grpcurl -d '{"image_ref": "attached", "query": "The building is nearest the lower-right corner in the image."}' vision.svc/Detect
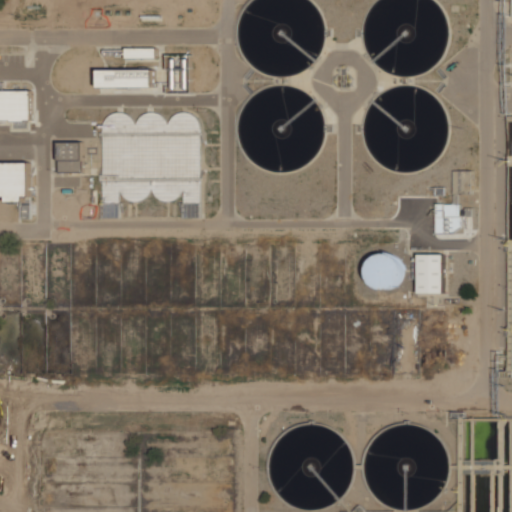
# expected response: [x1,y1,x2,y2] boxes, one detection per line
[415,254,444,294]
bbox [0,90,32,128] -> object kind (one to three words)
building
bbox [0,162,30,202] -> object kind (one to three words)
building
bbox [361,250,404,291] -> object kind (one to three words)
storage tank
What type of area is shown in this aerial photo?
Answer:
industrial area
